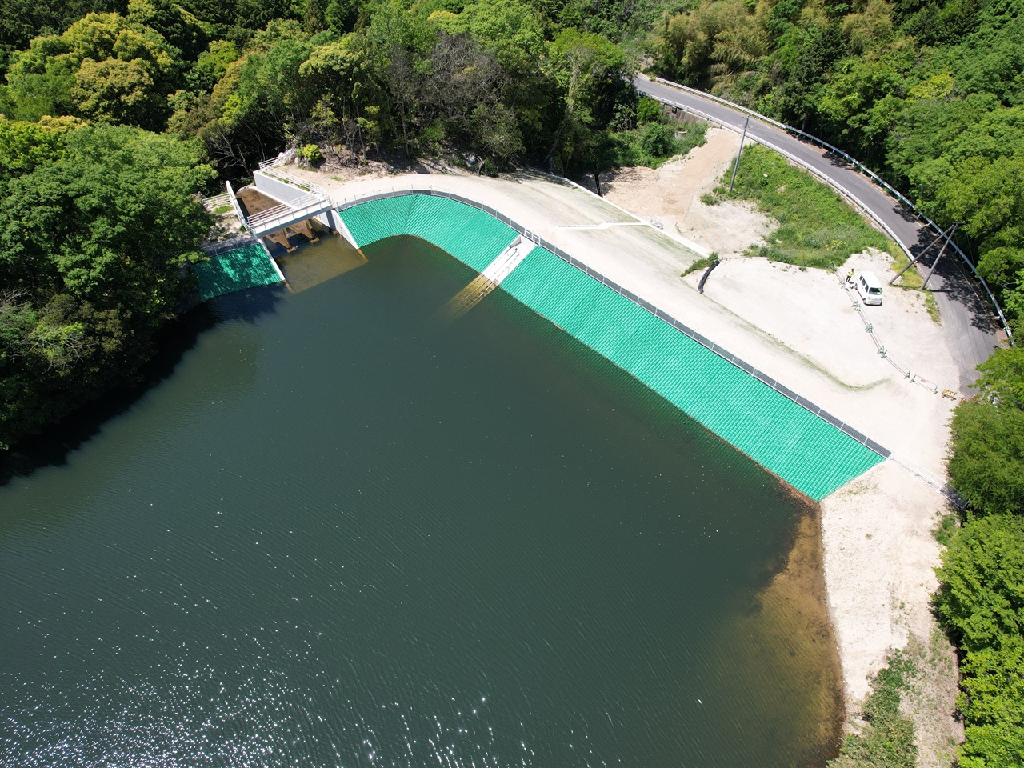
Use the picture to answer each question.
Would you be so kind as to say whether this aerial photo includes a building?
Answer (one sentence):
No, no building can be seen from above.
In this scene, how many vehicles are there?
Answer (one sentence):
The count comes to 1 vehicle.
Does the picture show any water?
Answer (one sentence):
Yes, there is water in the image.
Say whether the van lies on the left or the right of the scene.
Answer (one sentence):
You can find the van on the right side of the picture.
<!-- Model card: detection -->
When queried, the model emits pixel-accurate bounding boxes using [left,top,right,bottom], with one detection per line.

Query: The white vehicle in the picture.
[856,268,889,303]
